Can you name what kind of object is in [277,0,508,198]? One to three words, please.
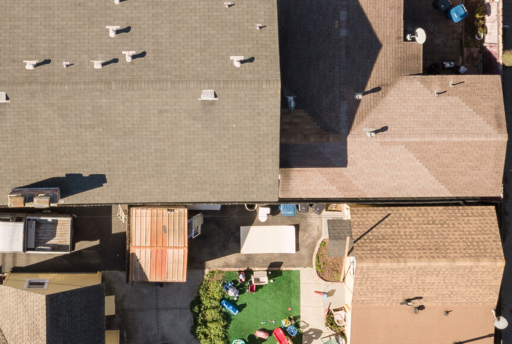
house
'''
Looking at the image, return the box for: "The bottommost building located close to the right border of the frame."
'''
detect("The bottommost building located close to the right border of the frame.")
[345,202,505,344]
